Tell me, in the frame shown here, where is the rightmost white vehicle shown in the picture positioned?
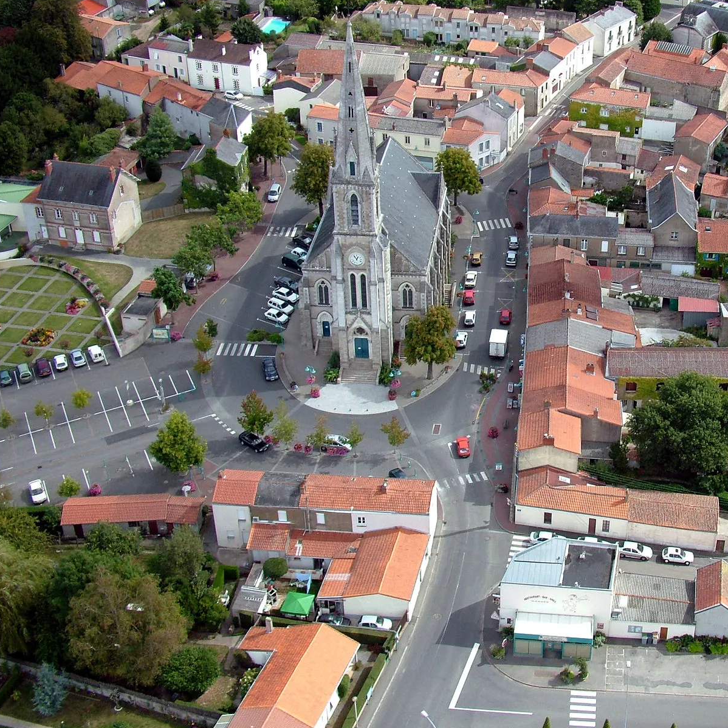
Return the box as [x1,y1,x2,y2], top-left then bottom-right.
[661,547,694,566]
